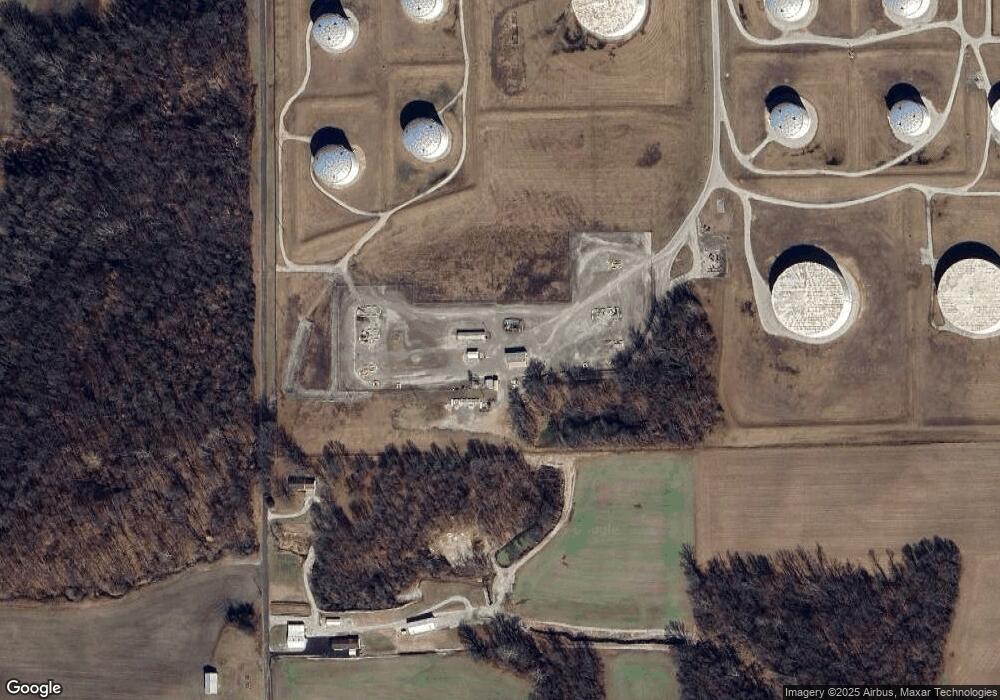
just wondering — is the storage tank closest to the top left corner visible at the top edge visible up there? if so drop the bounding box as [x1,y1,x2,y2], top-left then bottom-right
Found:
[312,13,354,51]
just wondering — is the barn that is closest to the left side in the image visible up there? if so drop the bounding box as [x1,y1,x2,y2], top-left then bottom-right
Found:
[205,673,220,697]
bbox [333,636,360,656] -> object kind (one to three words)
house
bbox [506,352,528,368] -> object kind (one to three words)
building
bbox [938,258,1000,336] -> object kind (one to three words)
storage tank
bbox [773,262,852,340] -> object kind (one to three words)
storage tank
